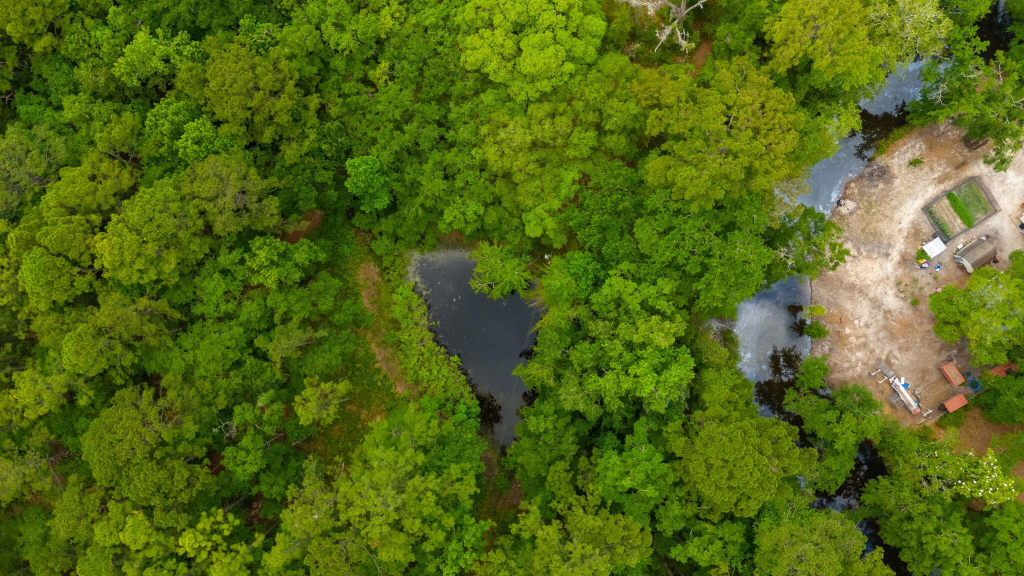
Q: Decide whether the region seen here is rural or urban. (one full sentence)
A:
This place is rural.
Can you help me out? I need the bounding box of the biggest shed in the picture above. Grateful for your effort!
[949,238,998,275]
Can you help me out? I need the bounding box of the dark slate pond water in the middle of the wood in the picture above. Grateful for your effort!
[408,247,544,452]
